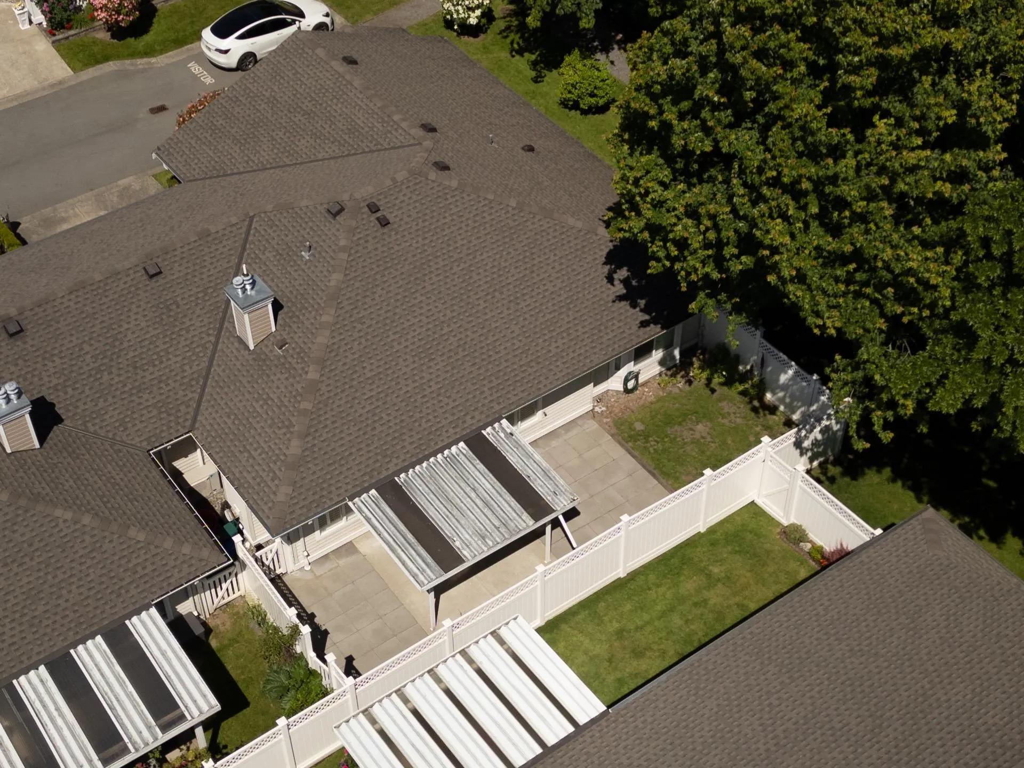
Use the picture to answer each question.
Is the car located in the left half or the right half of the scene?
left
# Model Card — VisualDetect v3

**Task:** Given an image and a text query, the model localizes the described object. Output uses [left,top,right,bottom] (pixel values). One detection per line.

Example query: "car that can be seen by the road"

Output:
[197,0,335,72]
